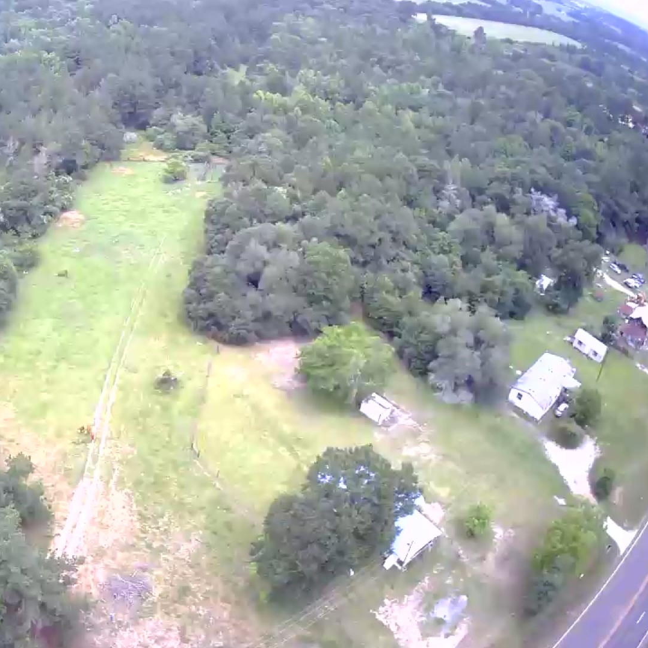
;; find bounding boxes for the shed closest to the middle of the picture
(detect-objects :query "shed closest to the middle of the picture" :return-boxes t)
[356,395,402,435]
